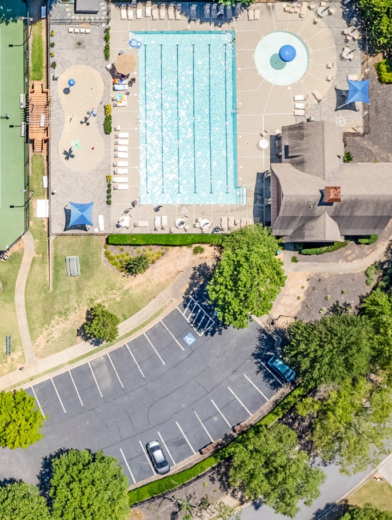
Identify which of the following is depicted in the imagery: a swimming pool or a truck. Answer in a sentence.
This aerial view contains a swimming pool.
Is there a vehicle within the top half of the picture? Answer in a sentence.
No, there is no vehicle within the top half of the picture.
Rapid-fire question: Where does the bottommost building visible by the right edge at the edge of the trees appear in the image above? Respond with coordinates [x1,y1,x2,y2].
[264,121,392,242]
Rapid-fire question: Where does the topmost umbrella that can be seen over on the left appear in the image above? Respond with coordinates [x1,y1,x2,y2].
[113,52,136,76]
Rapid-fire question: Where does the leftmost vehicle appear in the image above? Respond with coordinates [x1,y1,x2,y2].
[146,439,171,475]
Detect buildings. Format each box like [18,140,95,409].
[264,121,392,242]
[75,0,99,18]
